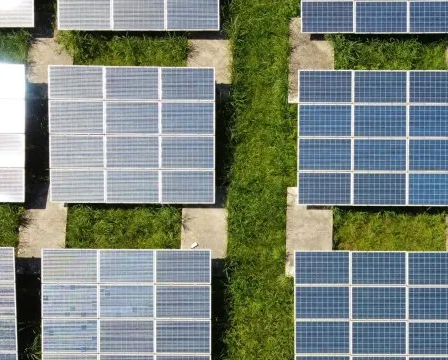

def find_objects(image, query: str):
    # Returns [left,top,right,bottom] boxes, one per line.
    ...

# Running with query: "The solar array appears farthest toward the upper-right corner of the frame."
[301,0,448,33]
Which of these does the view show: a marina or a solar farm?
solar farm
